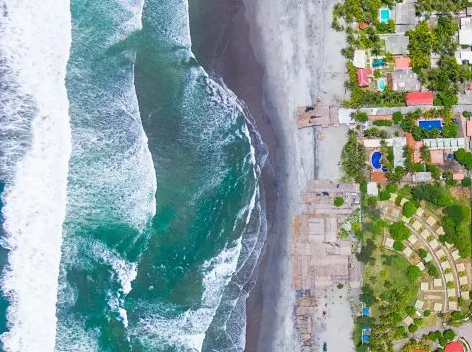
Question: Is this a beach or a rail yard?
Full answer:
This image shows a beach.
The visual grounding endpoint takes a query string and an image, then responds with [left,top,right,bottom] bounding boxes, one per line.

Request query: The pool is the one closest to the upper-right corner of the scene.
[380,7,392,24]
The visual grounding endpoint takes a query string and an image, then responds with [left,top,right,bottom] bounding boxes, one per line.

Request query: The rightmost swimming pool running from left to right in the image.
[418,119,443,131]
